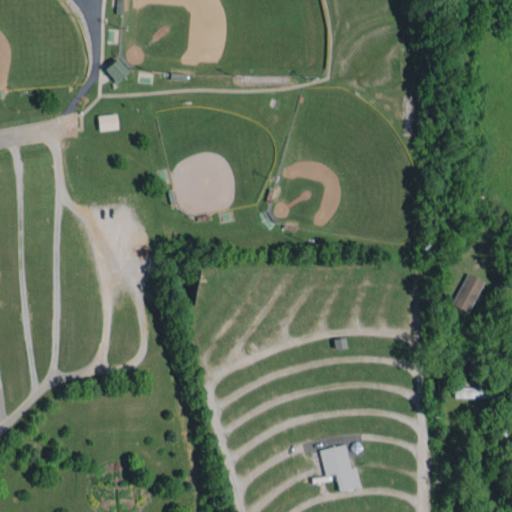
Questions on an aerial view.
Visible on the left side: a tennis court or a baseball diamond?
baseball diamond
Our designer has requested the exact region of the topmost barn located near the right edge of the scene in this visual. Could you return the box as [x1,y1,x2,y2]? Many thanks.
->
[454,274,488,312]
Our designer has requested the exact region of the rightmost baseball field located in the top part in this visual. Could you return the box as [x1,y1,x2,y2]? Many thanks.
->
[268,88,414,244]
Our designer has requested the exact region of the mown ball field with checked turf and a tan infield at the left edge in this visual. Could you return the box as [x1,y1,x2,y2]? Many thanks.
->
[0,0,87,97]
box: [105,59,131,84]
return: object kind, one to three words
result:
building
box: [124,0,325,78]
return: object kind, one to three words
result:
baseball field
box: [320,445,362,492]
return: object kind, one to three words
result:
building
